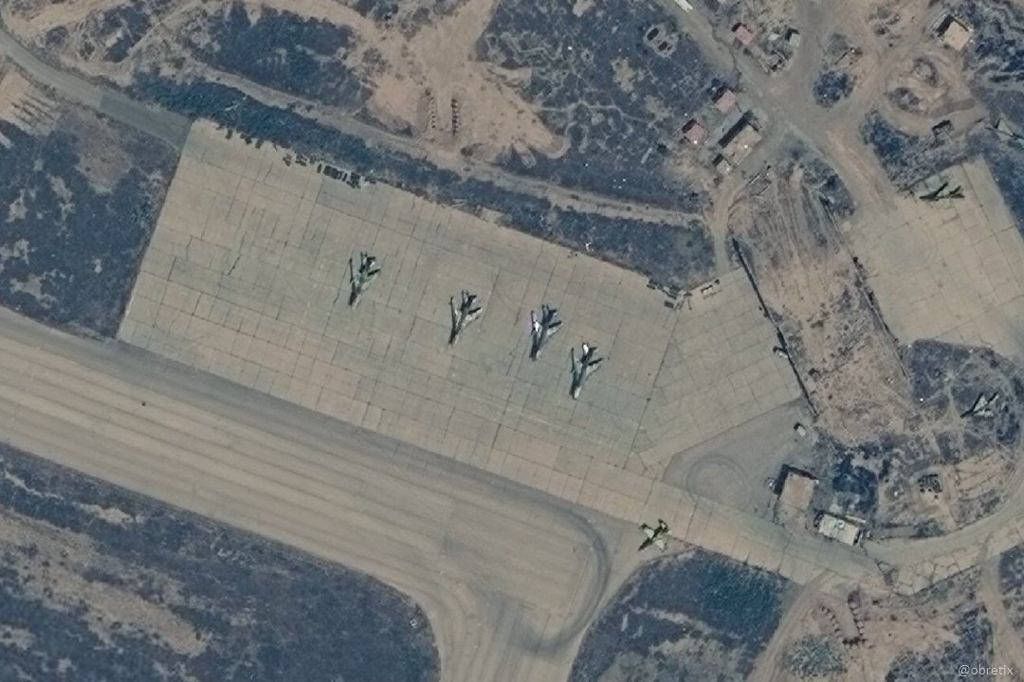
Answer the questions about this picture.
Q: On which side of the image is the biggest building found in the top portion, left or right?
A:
right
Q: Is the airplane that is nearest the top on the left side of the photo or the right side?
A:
right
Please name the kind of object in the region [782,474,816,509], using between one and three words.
building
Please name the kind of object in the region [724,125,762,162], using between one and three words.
building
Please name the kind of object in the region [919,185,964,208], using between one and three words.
airplane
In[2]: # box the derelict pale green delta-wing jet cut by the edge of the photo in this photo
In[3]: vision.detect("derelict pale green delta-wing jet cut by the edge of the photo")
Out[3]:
[985,120,1024,142]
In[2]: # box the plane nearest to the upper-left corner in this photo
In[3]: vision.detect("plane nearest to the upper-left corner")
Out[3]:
[349,252,380,311]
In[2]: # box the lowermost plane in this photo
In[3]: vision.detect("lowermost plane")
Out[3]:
[639,522,671,552]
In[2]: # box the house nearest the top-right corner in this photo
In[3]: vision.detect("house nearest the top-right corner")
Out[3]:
[945,23,970,47]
